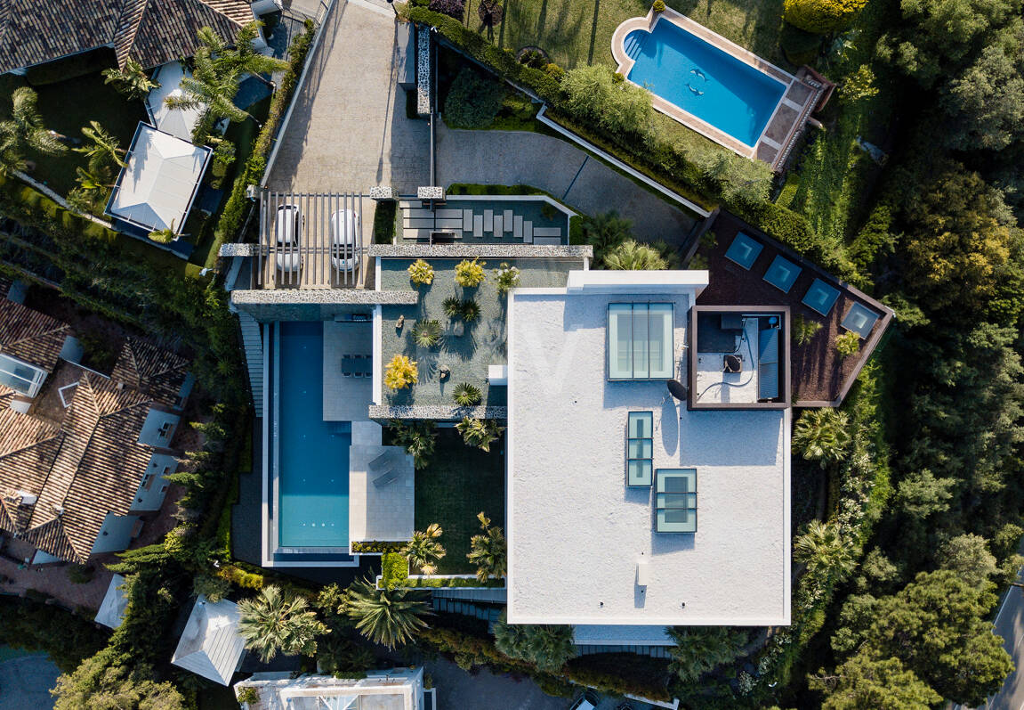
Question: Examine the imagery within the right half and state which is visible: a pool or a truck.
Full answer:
What appears within the right half is a pool.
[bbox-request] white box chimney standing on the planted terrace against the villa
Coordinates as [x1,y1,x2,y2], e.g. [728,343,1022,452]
[488,366,507,386]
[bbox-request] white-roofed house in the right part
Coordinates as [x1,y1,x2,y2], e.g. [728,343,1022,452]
[502,271,791,644]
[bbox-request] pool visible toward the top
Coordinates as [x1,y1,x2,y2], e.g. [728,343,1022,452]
[606,0,799,158]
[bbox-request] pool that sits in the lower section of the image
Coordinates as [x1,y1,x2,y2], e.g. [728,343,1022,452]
[263,320,366,565]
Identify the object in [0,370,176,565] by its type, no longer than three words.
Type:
house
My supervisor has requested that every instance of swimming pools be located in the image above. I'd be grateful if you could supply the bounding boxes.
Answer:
[263,320,366,565]
[606,0,799,158]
